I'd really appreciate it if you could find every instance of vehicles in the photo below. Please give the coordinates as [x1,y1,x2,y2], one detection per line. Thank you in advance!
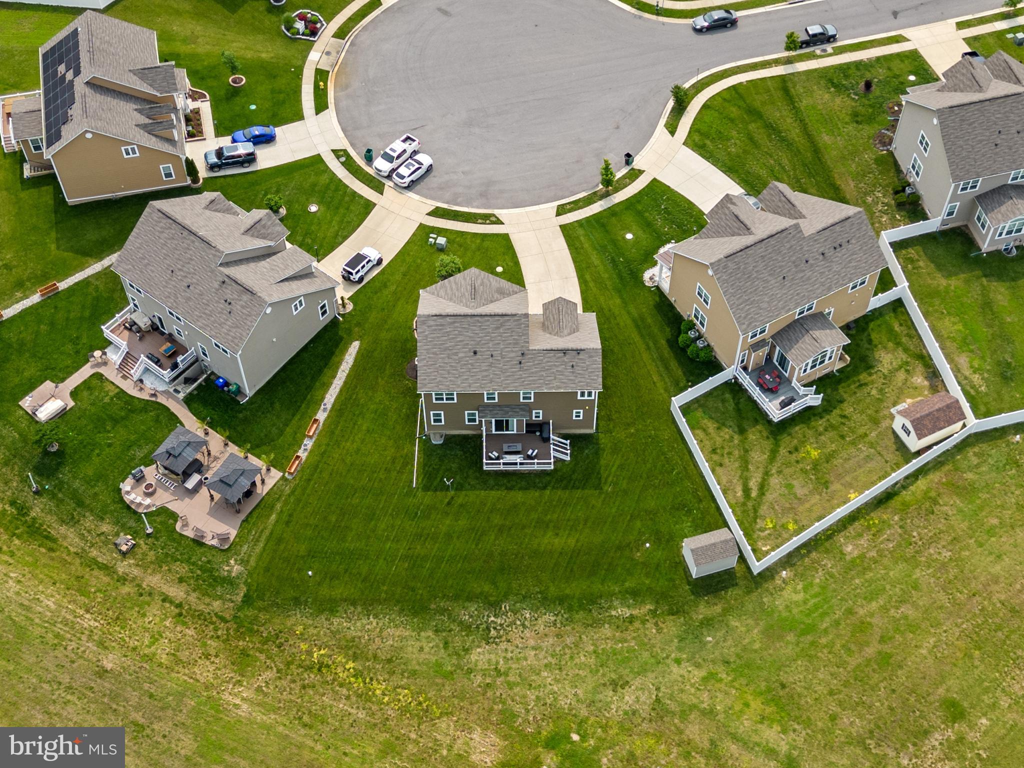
[391,153,435,191]
[341,247,384,286]
[961,38,999,64]
[787,20,843,49]
[203,142,257,173]
[691,9,739,33]
[226,125,276,145]
[370,134,421,181]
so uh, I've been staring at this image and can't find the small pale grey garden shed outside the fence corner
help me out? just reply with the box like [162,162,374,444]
[683,529,740,578]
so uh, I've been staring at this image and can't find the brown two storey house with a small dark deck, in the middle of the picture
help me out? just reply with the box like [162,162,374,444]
[417,266,602,433]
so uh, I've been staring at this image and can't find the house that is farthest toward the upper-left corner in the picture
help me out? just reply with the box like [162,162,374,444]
[10,11,189,204]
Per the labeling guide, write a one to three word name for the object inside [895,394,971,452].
shed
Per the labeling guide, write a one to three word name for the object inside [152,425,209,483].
gazebo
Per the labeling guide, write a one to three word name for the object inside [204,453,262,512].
gazebo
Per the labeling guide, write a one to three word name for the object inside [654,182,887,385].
house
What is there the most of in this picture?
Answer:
grass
